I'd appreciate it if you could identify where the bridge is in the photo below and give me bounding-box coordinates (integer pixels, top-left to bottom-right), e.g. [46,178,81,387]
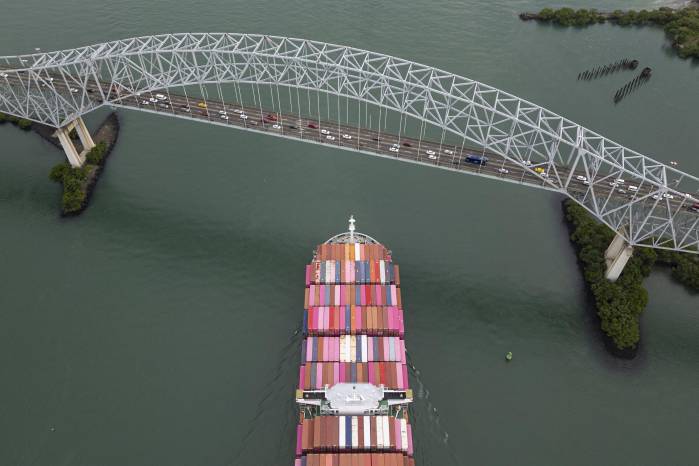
[0,32,699,281]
